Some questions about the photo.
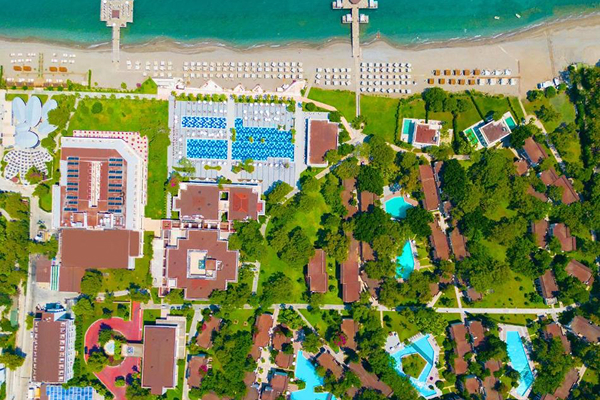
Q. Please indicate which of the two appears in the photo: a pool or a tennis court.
pool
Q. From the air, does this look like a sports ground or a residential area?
residential area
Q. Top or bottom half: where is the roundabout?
bottom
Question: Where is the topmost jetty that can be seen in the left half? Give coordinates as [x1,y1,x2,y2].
[100,0,134,62]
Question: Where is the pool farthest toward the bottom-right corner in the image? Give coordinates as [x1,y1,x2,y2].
[506,330,535,398]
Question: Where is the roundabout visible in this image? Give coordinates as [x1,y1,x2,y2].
[84,301,143,400]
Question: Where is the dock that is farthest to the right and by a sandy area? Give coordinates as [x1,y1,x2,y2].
[333,0,378,57]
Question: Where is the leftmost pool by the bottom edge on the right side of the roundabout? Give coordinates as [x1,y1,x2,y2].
[291,353,325,400]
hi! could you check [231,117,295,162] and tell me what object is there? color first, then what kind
blue swimming pool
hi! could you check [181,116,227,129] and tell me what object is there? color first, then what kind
blue swimming pool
